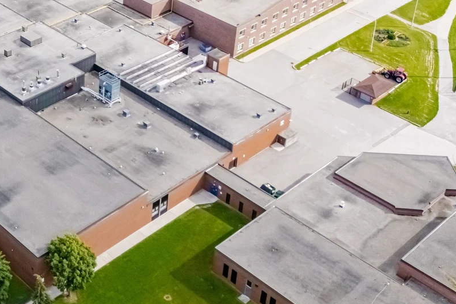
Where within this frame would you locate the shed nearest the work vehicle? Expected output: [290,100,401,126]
[352,75,401,111]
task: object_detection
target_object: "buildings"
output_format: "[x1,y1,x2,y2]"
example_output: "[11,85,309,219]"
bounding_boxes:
[0,0,304,289]
[352,75,401,111]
